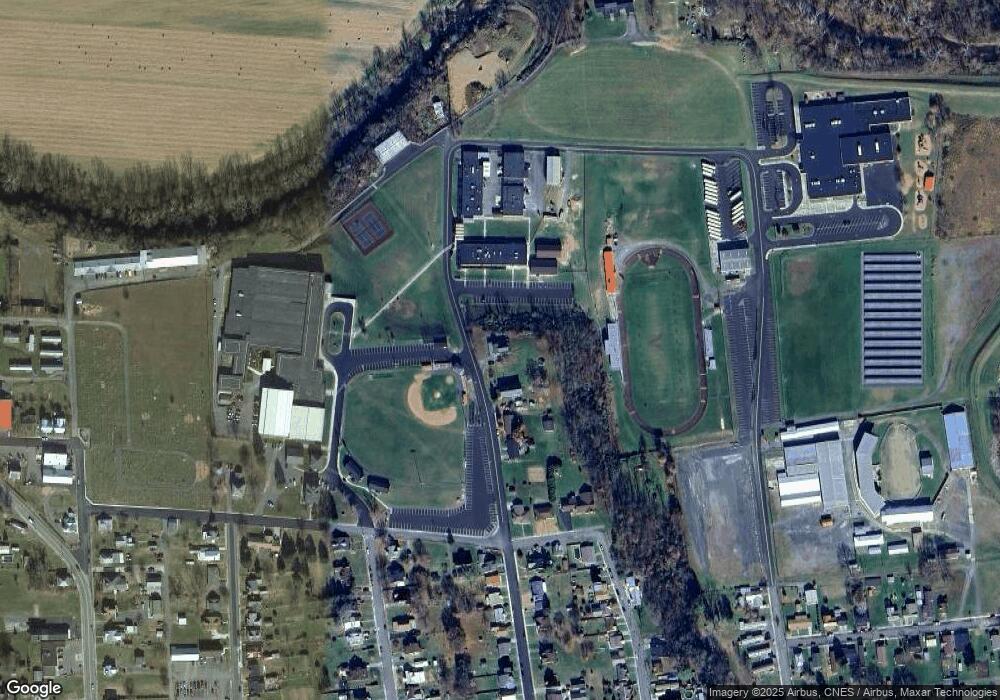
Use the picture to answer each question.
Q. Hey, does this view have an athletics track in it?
Yes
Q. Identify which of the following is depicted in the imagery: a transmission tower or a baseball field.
baseball field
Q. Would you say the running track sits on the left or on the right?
right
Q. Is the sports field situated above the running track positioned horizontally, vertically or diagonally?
horizontally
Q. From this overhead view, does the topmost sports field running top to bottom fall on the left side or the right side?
right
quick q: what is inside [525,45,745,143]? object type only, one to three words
sports field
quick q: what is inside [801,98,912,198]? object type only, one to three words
building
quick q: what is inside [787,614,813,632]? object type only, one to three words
house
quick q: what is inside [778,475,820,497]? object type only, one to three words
barn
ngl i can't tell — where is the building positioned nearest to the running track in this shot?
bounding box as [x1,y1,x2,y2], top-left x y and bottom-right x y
[604,251,616,293]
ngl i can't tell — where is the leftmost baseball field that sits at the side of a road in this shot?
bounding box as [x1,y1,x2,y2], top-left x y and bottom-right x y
[343,365,466,509]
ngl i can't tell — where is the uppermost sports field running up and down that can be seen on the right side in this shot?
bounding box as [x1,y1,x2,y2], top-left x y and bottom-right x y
[624,252,702,430]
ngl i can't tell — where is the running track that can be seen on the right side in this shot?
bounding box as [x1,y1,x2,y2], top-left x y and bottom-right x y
[617,245,710,435]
